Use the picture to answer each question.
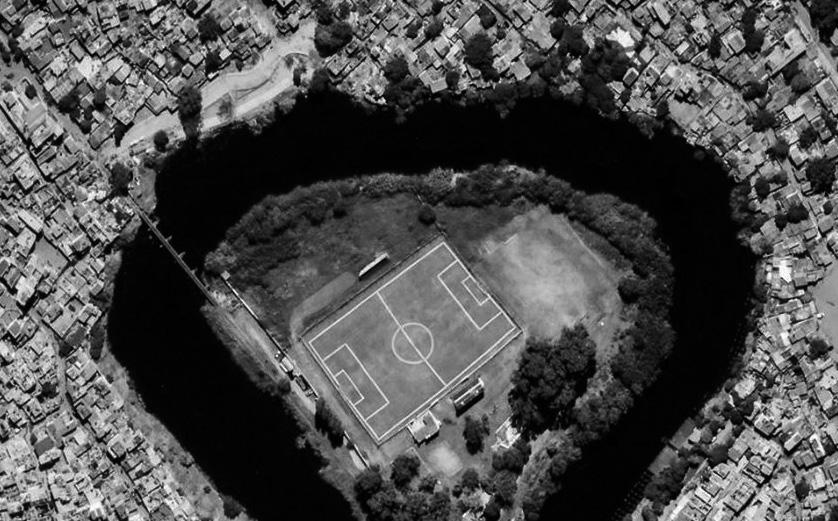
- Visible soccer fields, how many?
1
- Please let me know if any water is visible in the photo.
Yes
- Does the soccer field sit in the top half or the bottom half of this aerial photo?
bottom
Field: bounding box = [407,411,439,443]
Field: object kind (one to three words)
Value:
building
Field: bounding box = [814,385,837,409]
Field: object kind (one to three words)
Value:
house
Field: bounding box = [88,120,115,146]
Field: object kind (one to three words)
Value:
house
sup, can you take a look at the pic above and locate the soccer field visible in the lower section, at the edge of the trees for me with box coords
[302,236,520,443]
